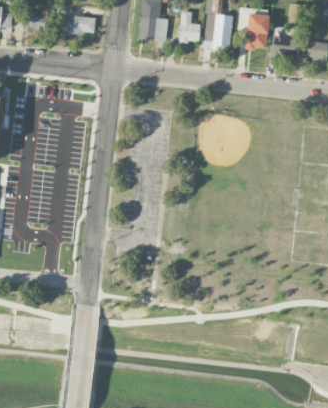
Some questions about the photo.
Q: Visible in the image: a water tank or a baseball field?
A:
baseball field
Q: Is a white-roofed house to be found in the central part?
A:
No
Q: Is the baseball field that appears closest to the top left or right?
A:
right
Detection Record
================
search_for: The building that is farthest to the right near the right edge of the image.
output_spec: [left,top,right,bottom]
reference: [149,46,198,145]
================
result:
[308,40,328,62]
